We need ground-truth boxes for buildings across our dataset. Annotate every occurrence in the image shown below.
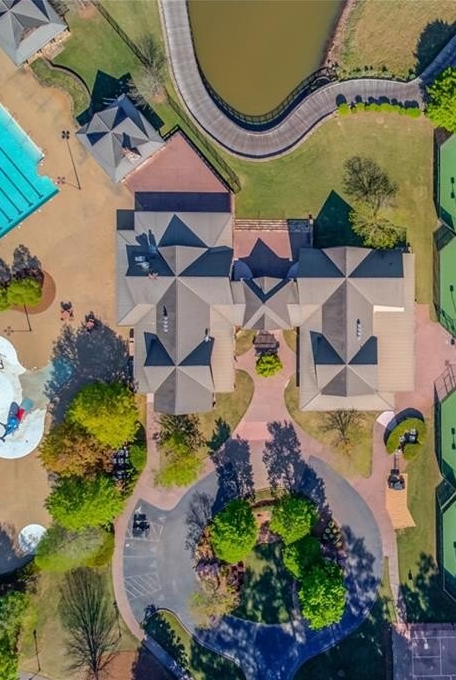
[117,212,415,415]
[75,94,169,185]
[0,0,73,71]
